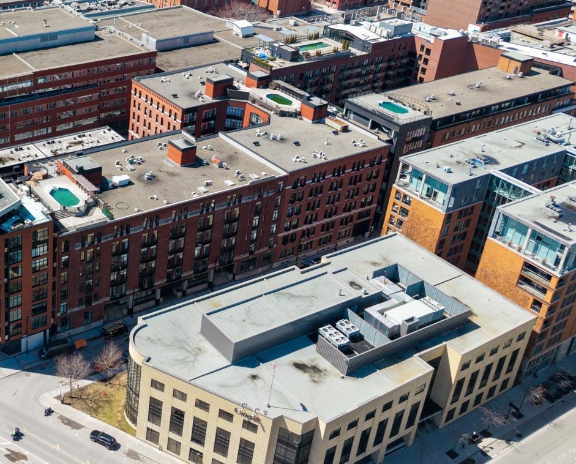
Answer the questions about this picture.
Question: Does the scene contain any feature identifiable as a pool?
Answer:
Yes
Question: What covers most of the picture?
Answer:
buildings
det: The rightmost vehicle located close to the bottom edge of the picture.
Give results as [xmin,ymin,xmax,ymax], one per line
[89,432,119,453]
